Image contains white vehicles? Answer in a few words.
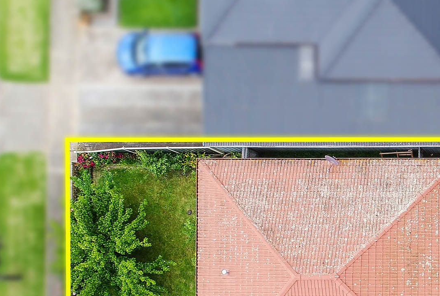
No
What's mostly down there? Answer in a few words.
buildings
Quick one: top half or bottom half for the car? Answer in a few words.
top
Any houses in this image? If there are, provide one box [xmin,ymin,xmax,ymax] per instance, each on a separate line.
[198,0,440,155]
[196,158,440,296]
